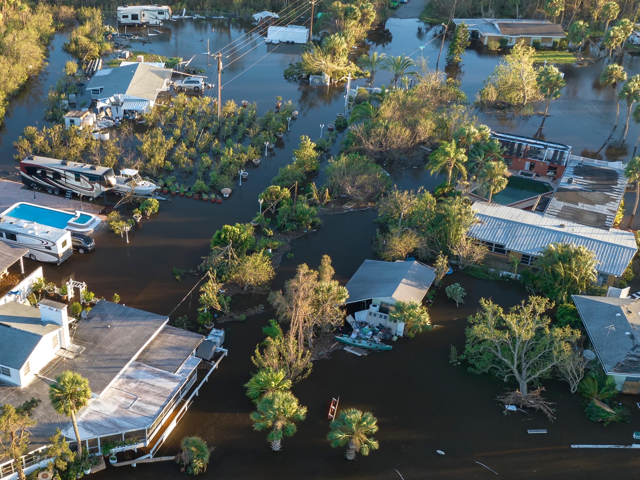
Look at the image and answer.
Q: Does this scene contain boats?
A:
Yes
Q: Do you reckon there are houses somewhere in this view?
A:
Yes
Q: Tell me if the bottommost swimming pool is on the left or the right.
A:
left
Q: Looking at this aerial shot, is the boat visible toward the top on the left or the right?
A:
left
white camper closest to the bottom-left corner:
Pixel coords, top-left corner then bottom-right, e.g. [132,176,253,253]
[0,215,73,265]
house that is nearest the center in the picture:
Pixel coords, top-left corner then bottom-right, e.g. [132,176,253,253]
[349,259,436,323]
